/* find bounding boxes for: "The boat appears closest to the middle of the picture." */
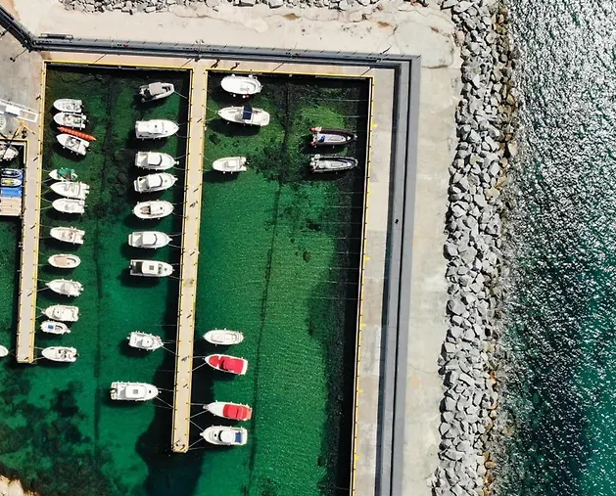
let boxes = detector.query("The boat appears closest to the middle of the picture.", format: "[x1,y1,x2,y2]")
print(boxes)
[311,154,358,171]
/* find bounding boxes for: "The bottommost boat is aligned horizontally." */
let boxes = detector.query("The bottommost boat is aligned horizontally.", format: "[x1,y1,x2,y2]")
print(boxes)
[189,426,251,447]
